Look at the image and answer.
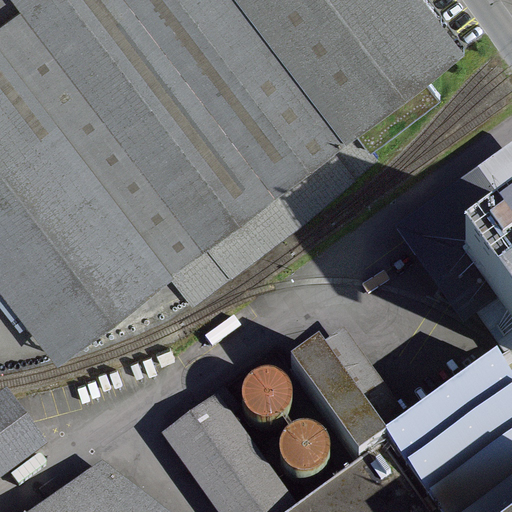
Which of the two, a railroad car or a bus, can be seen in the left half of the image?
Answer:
bus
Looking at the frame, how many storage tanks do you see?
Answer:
2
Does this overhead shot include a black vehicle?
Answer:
Yes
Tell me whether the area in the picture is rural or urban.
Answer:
urban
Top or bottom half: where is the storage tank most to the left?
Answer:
bottom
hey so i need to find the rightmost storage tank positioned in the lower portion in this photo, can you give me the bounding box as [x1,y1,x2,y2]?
[279,421,331,482]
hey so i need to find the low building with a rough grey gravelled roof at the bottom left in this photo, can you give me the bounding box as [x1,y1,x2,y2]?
[24,460,155,512]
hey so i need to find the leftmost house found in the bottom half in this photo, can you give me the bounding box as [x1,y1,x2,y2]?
[0,388,48,482]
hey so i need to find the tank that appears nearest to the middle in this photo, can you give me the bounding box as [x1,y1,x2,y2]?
[242,367,294,430]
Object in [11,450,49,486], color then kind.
white bus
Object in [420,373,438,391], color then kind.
black car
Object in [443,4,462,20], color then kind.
white car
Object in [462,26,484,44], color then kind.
white car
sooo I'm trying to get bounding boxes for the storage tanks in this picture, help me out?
[279,421,331,482]
[242,367,294,430]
